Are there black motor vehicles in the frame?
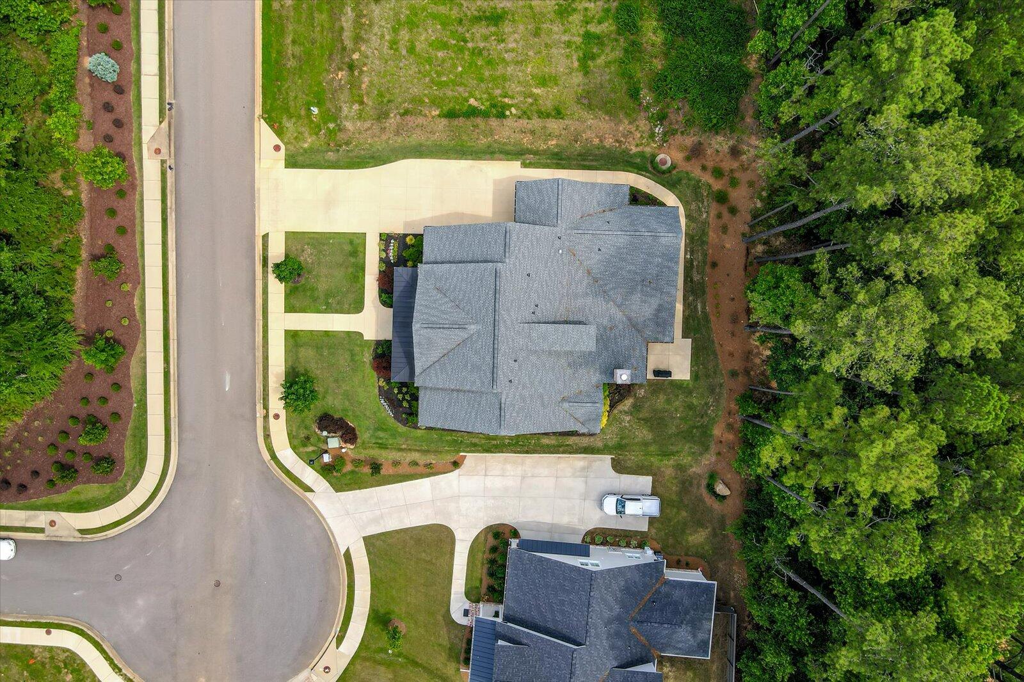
No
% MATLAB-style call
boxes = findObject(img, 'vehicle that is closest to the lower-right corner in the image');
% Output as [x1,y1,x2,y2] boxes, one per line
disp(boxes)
[600,492,661,519]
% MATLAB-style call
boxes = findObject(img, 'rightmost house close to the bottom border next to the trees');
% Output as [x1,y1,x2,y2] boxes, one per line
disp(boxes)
[470,539,718,682]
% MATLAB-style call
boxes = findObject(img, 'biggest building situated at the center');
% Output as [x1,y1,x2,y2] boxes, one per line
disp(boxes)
[392,179,682,435]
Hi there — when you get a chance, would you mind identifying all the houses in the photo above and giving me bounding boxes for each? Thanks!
[470,539,718,682]
[392,179,682,435]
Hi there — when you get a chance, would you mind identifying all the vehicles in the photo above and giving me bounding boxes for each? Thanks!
[600,492,661,519]
[0,536,19,559]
